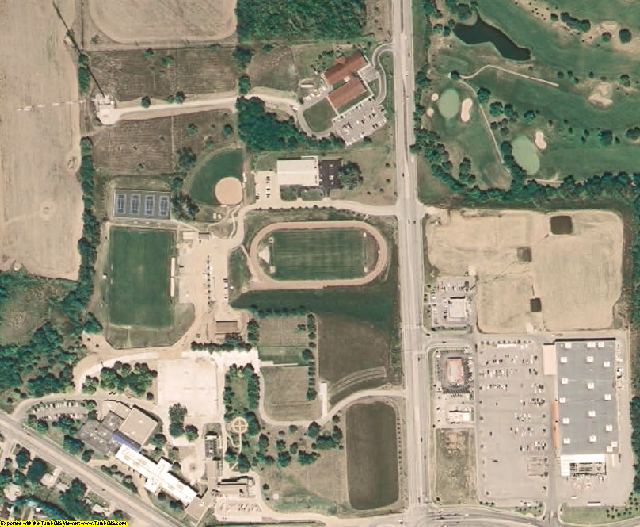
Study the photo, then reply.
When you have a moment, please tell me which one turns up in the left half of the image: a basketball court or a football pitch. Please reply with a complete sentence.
Visible in the left half of the image is a football pitch.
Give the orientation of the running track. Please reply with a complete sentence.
From this overhead view, the running track appears to run from side to side.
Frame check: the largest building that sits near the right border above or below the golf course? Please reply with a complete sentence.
In the image, the largest building that sits near the right border appears below the golf course.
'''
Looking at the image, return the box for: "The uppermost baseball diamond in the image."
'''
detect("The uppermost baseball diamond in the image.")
[184,146,243,208]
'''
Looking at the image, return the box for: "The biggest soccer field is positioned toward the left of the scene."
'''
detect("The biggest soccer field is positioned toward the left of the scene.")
[103,222,194,349]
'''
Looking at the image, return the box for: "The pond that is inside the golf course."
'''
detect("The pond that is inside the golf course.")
[452,15,532,63]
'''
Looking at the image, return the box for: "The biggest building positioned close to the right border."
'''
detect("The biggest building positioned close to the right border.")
[543,338,618,476]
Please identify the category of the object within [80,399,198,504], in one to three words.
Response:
building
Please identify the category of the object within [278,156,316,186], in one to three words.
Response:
building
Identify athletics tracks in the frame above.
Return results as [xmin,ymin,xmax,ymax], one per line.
[249,221,388,289]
